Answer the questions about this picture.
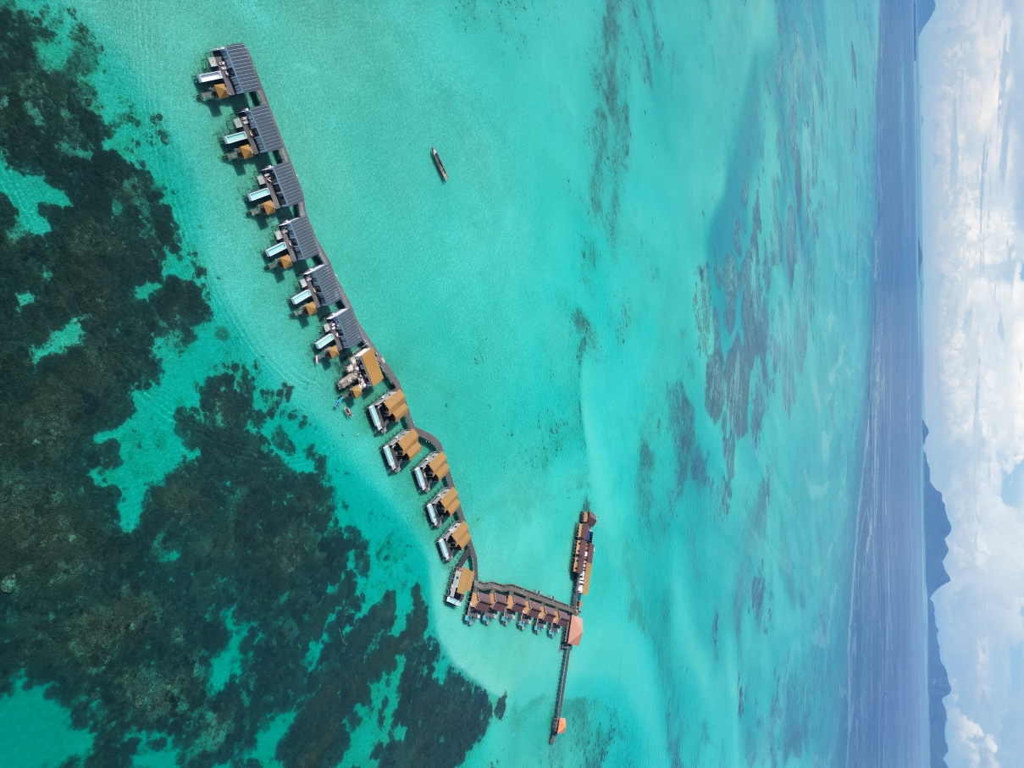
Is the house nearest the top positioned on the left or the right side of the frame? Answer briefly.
left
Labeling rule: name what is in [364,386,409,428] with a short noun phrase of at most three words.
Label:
house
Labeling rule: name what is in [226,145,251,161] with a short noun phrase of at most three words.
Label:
gazebo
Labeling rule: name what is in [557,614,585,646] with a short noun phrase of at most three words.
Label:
building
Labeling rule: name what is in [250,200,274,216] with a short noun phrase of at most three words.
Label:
gazebo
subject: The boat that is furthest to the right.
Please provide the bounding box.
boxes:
[432,146,449,181]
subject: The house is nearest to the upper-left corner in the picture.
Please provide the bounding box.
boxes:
[207,44,259,96]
